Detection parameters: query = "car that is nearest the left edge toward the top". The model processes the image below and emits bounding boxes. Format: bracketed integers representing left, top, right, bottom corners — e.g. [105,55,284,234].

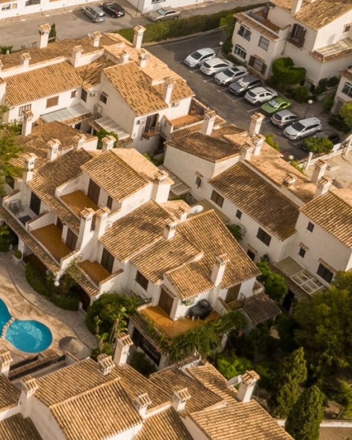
[76,3,114,25]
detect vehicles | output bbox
[264,108,305,131]
[241,86,281,108]
[96,0,134,21]
[255,94,299,116]
[280,114,327,143]
[181,46,218,69]
[196,54,235,78]
[210,60,254,86]
[76,3,114,25]
[225,71,268,98]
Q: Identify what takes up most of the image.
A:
buildings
